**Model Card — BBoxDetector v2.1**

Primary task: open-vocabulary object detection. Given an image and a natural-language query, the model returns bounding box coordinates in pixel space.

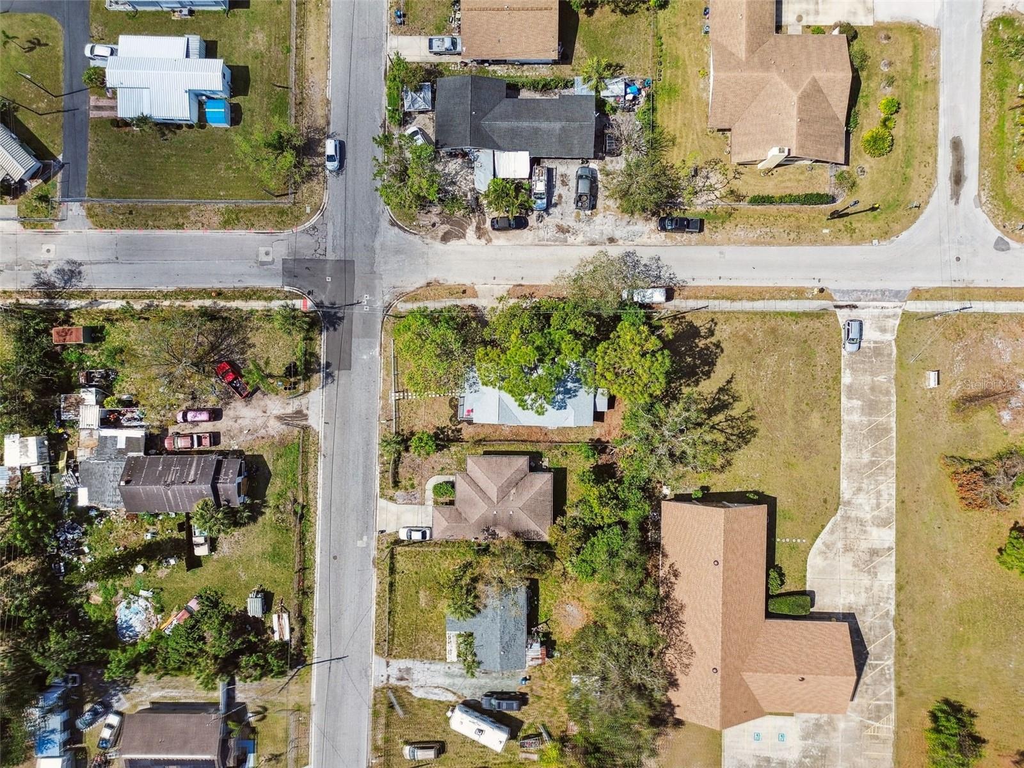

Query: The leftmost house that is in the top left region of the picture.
[0,118,53,186]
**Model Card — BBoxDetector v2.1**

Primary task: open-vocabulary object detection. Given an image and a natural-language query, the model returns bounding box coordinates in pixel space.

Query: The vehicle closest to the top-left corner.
[84,43,118,61]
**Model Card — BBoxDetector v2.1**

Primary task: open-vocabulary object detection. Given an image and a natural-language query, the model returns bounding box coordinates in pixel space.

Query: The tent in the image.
[404,84,432,117]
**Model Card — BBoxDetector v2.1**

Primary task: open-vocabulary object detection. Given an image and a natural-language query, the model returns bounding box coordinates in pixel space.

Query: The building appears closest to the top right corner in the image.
[707,0,854,173]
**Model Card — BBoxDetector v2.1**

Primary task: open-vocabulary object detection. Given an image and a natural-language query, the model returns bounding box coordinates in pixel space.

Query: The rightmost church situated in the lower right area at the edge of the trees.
[660,495,858,729]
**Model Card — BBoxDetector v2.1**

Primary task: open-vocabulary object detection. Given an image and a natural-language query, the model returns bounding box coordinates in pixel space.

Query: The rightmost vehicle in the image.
[843,319,861,352]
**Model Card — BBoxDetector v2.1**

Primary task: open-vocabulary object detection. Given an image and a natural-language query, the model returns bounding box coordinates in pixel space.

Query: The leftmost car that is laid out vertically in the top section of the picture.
[324,138,340,172]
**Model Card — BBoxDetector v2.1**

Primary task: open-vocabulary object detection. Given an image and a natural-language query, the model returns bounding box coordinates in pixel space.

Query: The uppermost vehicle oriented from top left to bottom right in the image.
[407,122,434,155]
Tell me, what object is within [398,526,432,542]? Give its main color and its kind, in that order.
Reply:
white car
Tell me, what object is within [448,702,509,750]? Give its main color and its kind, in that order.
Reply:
white trailer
